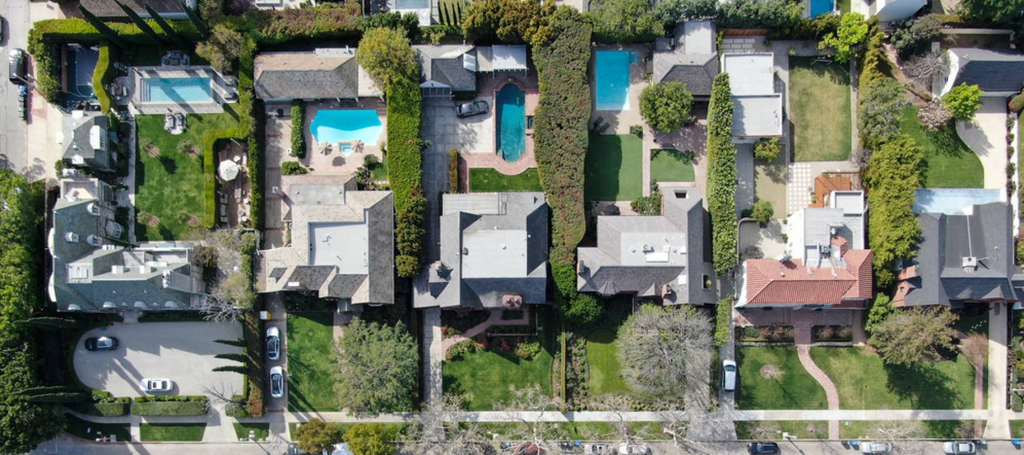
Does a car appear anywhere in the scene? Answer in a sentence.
Yes, a car can be made out from above.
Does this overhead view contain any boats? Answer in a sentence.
No, there isn't any boat down there.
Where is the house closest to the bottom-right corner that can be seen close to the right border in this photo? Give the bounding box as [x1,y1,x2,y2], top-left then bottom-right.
[883,203,1024,309]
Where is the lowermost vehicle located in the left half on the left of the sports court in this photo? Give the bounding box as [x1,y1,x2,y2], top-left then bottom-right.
[8,50,28,85]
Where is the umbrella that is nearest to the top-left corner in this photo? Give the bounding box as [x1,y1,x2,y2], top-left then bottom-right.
[220,161,240,181]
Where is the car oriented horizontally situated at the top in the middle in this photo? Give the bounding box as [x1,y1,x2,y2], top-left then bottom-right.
[456,100,489,117]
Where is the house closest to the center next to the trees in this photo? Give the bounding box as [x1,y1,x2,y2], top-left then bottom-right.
[414,192,547,311]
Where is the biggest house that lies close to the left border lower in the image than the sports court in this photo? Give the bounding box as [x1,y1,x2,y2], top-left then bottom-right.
[47,178,215,312]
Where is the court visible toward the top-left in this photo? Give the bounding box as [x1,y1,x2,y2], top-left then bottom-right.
[67,44,106,116]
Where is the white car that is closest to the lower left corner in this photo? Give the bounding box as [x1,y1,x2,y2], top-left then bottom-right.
[141,378,175,393]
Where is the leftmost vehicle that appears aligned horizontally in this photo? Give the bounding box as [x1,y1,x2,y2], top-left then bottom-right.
[85,336,120,351]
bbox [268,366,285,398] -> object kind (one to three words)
car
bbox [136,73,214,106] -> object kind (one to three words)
swimming pool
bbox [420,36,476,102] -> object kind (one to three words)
building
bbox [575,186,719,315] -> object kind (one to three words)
house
